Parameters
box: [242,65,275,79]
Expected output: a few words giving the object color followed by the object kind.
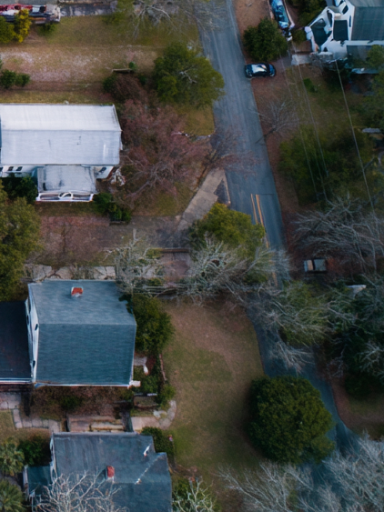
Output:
black car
